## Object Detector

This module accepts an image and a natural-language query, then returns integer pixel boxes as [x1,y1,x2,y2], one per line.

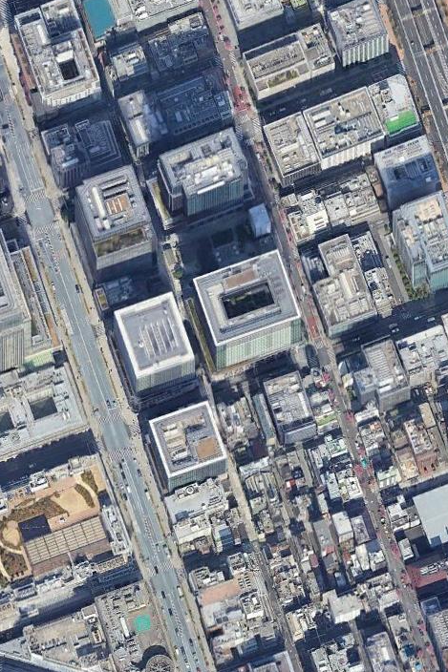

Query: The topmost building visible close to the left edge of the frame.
[15,0,101,113]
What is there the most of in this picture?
buildings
